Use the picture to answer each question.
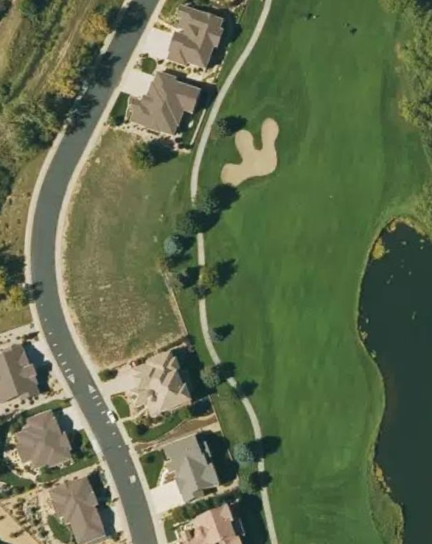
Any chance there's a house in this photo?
Yes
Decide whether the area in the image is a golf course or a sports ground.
golf course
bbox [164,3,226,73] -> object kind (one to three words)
house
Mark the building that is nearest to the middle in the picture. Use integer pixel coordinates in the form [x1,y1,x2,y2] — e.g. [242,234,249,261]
[128,356,194,420]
